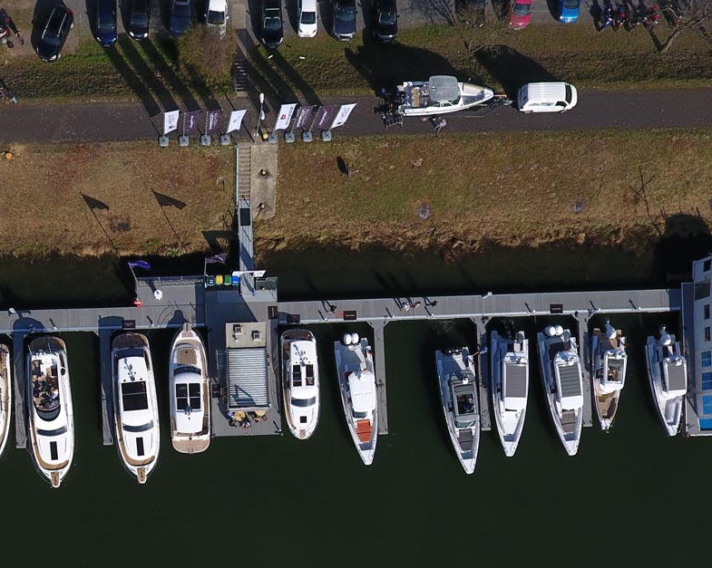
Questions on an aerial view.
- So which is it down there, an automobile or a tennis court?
automobile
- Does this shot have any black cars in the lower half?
No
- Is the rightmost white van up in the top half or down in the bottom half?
top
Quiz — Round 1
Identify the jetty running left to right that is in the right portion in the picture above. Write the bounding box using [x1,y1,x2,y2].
[279,288,681,324]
